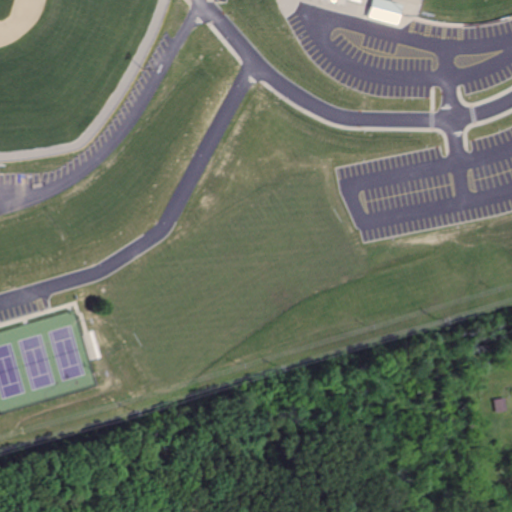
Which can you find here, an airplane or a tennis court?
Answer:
tennis court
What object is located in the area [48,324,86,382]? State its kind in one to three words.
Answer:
tennis court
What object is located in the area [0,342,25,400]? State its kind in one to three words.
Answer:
tennis court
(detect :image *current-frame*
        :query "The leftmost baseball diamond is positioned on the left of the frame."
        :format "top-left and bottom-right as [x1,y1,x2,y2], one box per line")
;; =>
[0,0,169,162]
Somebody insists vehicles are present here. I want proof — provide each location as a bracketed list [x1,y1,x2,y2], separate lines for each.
[32,182,43,188]
[157,64,164,74]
